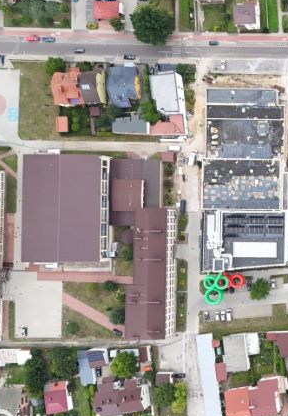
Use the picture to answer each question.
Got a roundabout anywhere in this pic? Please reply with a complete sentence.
No, no roundabout is visible in the scene.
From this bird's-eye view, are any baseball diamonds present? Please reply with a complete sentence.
No, I find no baseball diamond anywhere in the image.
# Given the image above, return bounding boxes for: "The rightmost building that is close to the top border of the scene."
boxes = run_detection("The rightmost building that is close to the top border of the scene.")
[233,0,259,28]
